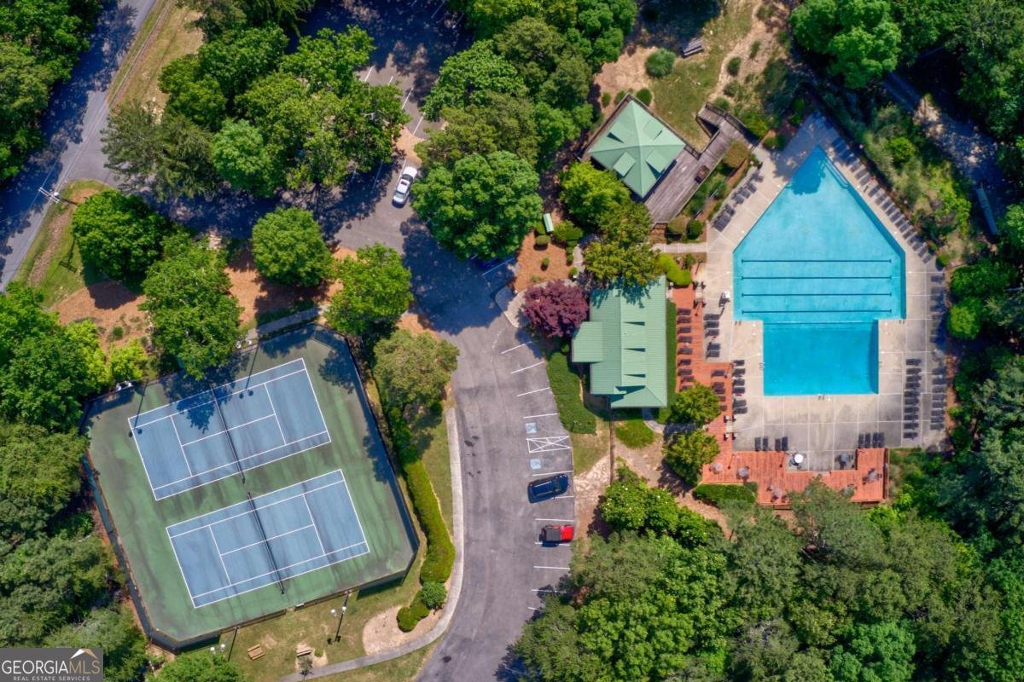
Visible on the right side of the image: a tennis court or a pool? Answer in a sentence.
The feature located on the right side of the image is a pool.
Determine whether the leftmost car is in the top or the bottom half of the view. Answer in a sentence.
It is in the top half that the leftmost car appears.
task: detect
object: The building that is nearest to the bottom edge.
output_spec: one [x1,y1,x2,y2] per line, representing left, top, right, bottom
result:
[572,274,668,409]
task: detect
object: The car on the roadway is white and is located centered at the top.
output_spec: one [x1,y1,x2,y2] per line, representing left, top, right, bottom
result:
[391,165,418,203]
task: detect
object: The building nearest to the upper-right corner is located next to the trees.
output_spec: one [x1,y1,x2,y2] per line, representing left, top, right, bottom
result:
[589,99,686,198]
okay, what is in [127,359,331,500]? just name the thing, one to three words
tennis court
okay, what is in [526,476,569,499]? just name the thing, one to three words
car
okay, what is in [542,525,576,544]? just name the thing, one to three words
car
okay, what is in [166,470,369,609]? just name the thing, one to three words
tennis court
